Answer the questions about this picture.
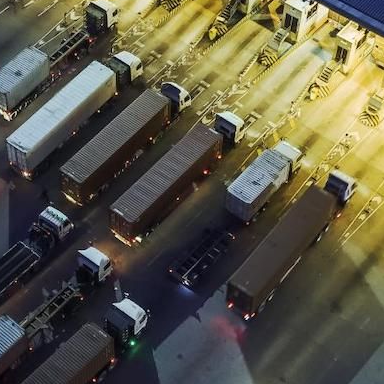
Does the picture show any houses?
No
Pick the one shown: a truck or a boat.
truck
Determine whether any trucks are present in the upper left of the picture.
Yes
